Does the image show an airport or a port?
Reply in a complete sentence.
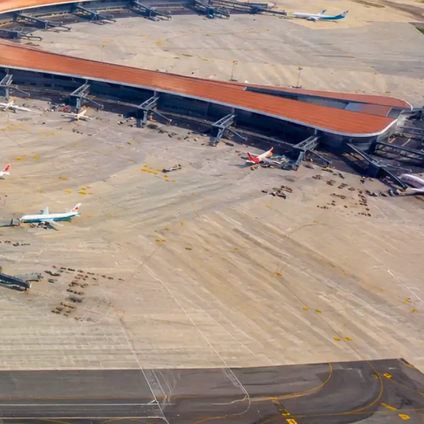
The picture captures an airport.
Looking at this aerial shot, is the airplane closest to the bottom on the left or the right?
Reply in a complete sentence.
You can find the airplane closest to the bottom on the left side of the picture.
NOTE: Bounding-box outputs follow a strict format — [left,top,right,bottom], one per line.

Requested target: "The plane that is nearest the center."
[232,144,286,164]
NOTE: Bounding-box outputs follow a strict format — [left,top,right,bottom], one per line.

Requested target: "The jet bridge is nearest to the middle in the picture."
[210,117,251,150]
